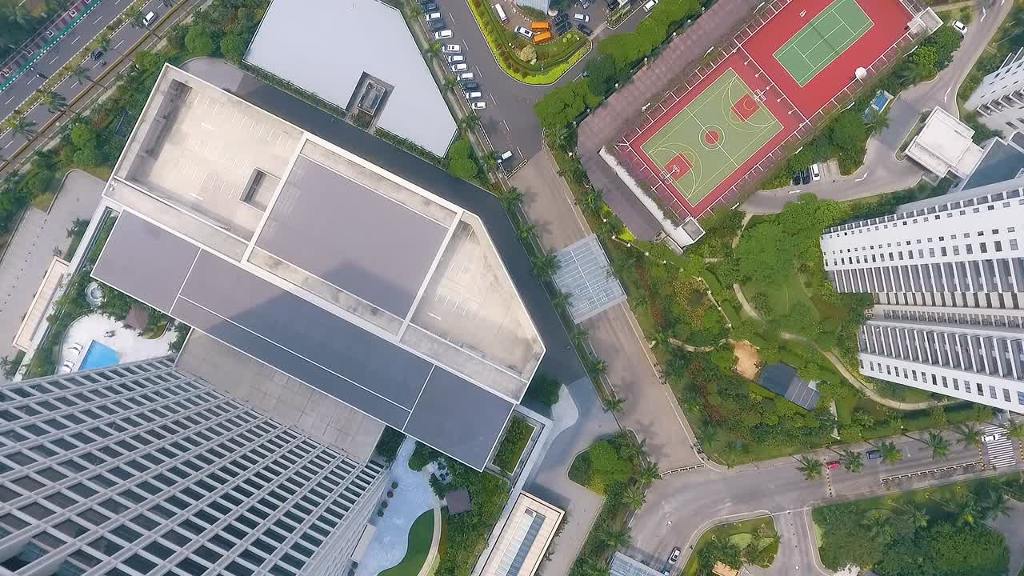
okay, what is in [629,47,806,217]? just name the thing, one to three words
basketball court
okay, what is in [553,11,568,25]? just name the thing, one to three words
car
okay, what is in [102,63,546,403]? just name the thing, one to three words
building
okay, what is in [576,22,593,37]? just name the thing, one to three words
car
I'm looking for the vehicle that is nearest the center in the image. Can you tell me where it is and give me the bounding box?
[498,150,513,162]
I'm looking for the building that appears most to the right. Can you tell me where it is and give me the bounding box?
[964,39,1024,138]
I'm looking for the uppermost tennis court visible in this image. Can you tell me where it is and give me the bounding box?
[741,0,916,120]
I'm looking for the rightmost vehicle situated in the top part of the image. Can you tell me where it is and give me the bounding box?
[952,20,967,33]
